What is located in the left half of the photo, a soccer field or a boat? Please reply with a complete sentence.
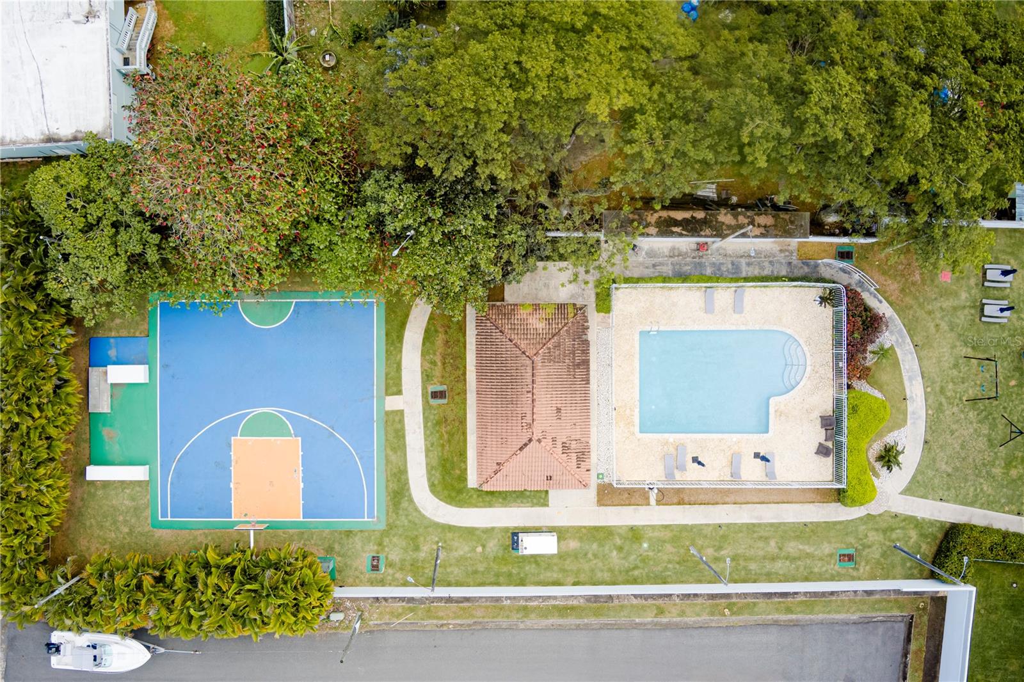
You can see a boat in the left half of the photo.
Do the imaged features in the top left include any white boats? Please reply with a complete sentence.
No, no white boat appears in the top left.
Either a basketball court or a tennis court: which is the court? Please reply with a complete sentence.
Looking closely, the court is a basketball court.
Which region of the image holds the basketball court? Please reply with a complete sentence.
The basketball court is in the left part of the image.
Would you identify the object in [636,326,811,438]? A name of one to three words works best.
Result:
swimming pool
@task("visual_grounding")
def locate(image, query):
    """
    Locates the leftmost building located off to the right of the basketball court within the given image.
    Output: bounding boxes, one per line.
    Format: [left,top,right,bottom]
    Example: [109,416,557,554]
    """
[474,302,592,493]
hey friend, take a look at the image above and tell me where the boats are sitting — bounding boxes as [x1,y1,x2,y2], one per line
[41,632,150,672]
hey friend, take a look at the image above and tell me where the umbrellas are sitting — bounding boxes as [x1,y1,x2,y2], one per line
[999,305,1016,314]
[1002,268,1018,279]
[692,456,709,469]
[754,453,776,466]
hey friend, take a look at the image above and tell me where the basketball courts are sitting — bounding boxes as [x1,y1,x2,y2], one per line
[149,292,385,530]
